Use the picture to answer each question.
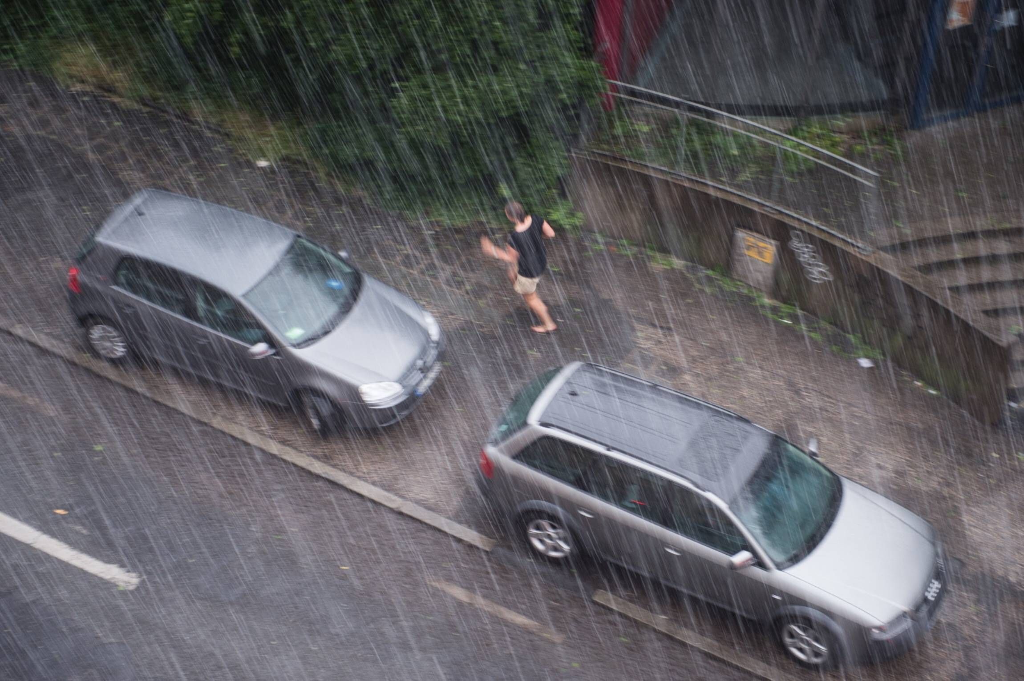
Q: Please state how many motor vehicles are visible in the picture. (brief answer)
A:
2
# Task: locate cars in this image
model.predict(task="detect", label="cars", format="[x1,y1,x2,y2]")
[487,362,949,667]
[72,186,442,440]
